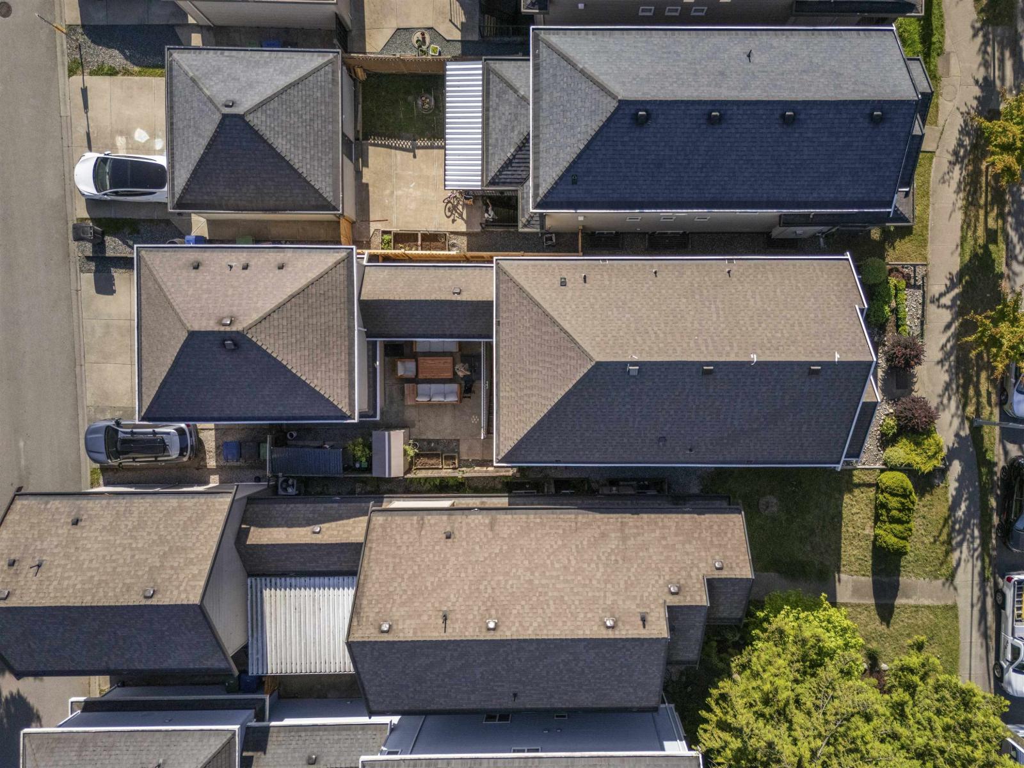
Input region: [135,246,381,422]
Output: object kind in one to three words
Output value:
house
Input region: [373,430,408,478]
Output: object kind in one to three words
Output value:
shed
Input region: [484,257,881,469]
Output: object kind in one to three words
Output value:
house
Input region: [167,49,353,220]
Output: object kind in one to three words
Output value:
building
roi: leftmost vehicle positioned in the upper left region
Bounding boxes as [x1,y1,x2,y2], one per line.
[75,148,169,203]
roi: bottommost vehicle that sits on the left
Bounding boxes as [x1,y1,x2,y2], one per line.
[84,415,202,470]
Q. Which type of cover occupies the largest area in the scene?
buildings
